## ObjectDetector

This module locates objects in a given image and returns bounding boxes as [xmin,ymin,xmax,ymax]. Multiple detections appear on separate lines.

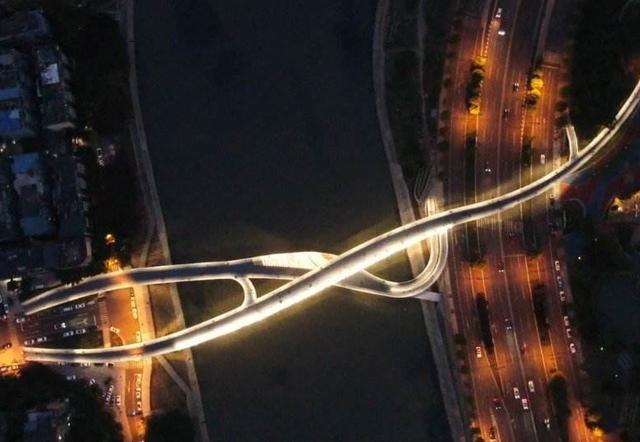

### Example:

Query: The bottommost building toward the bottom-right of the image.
[593,369,640,442]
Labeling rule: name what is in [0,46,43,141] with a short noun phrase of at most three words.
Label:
building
